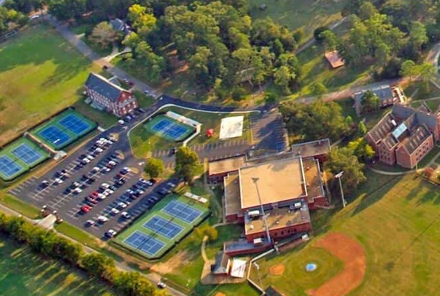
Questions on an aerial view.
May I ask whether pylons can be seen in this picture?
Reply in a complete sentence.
No, this view has no pylon in it.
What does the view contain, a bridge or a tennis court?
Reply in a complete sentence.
Visible in the photo is a tennis court.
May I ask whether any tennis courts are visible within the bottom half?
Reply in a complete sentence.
Yes, there is a tennis court within the bottom half.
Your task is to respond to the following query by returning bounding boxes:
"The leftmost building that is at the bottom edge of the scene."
[208,253,230,283]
